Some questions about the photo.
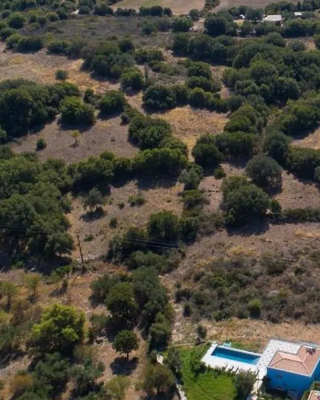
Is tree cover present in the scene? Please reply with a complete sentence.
Yes, there's tree cover in this view.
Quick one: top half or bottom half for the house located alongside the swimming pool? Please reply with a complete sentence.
It is in the bottom half that the house located alongside the swimming pool appears.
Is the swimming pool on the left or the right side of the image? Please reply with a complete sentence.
It is on the right.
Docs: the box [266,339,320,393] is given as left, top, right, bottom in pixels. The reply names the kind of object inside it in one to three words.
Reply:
house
